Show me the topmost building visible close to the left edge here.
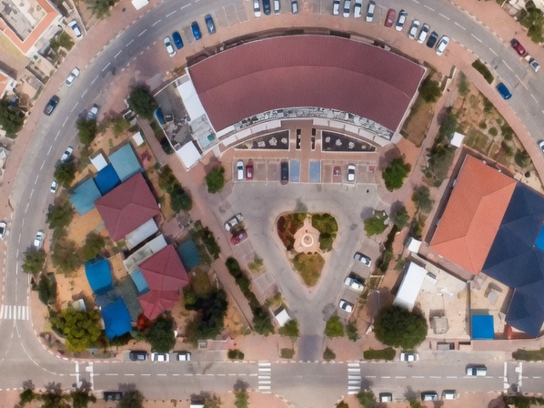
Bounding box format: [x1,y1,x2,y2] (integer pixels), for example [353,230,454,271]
[0,0,72,60]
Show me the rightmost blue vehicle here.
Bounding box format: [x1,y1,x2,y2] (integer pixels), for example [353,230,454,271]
[496,81,511,100]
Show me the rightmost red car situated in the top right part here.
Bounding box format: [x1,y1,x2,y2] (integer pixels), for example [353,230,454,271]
[511,39,525,56]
